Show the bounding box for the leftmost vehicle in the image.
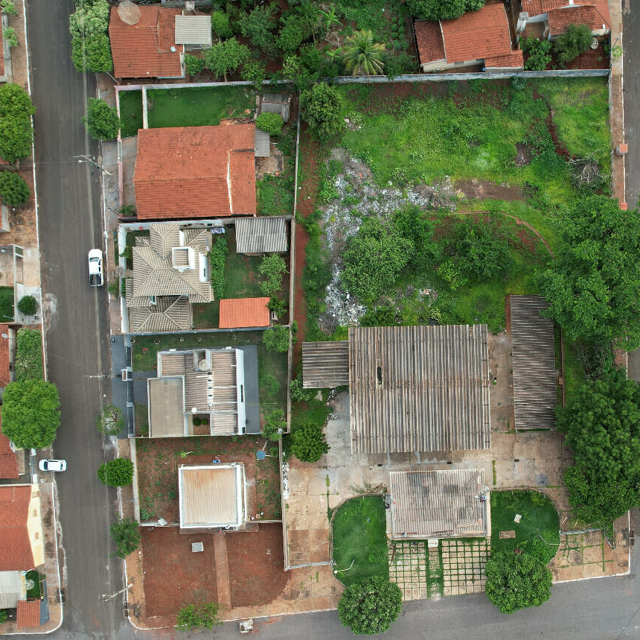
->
[40,457,67,472]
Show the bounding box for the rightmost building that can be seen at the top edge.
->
[522,0,611,42]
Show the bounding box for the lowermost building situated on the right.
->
[386,468,491,547]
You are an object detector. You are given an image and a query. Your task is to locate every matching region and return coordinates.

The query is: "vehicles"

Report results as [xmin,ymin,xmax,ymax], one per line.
[88,249,105,285]
[40,457,67,472]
